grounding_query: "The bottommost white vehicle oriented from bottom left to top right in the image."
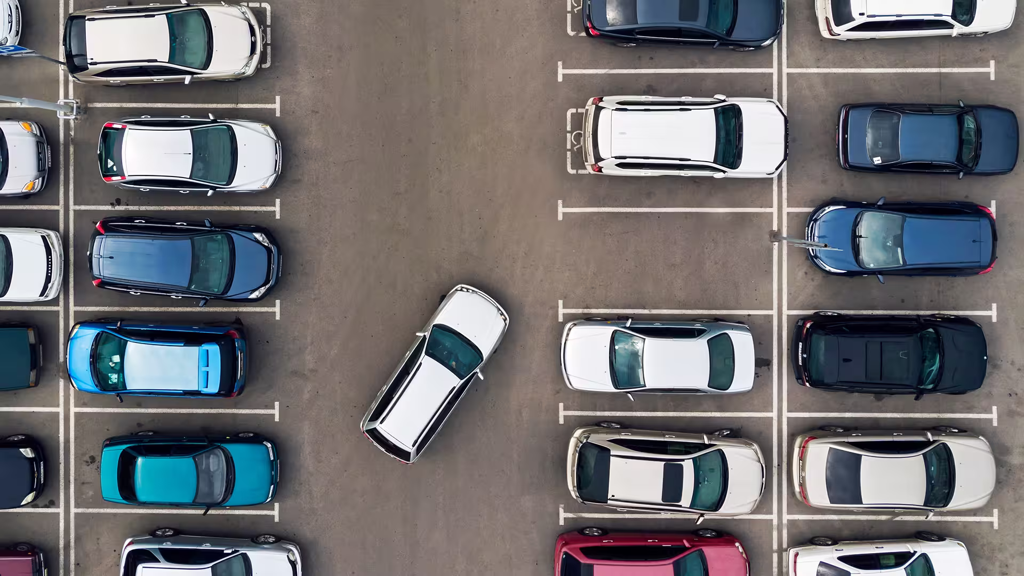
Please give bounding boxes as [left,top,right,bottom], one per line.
[361,286,508,464]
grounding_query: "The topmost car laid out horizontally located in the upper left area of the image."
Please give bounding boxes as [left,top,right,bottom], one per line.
[61,0,264,91]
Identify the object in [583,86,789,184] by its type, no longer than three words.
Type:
car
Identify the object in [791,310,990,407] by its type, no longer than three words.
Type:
car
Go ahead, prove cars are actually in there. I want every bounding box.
[0,0,26,44]
[0,226,66,302]
[561,314,754,405]
[791,310,990,407]
[835,94,1019,182]
[0,429,47,509]
[582,0,784,52]
[98,110,283,201]
[568,421,765,527]
[100,427,279,518]
[0,545,48,576]
[805,195,999,286]
[87,217,283,309]
[0,122,54,194]
[787,532,973,576]
[555,524,750,576]
[120,526,302,576]
[791,424,995,522]
[67,316,249,408]
[583,86,789,184]
[361,286,508,464]
[814,0,1016,42]
[61,0,264,91]
[0,320,43,392]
